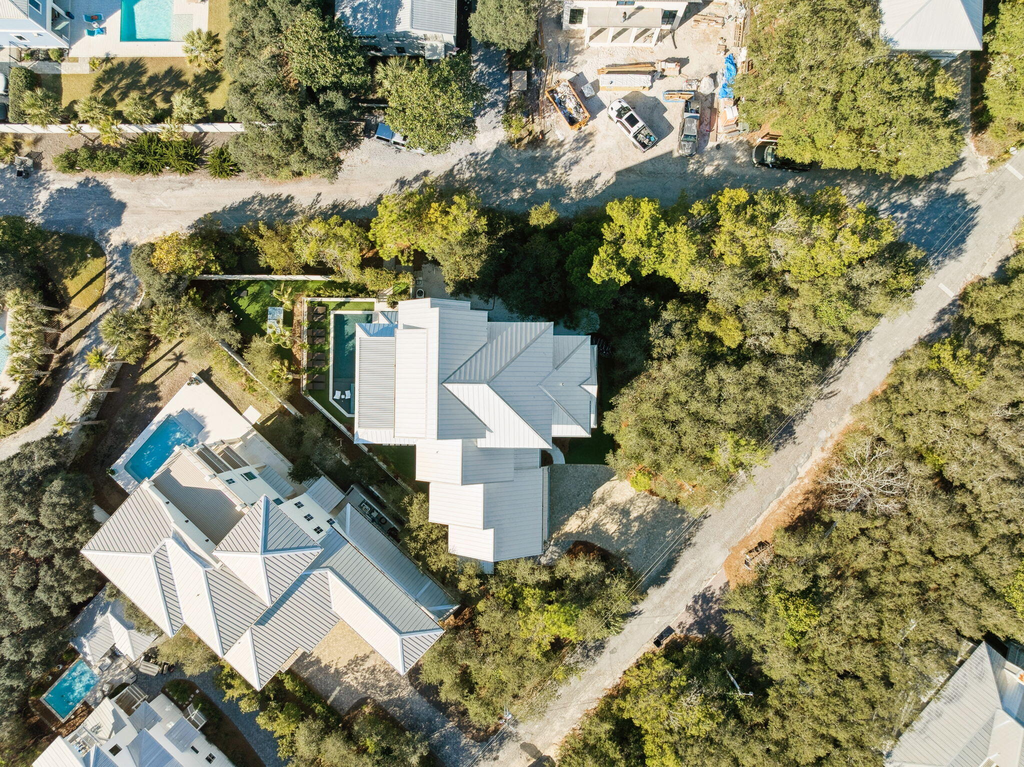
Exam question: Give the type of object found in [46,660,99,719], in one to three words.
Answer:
swimming pool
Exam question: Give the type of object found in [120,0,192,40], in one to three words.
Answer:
swimming pool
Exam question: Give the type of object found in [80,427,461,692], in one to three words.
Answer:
house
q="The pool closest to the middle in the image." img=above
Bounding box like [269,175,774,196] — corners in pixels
[332,314,373,414]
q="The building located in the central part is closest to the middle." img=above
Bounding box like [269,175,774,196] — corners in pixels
[350,298,611,574]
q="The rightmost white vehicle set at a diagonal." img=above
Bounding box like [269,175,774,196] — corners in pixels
[602,93,663,160]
